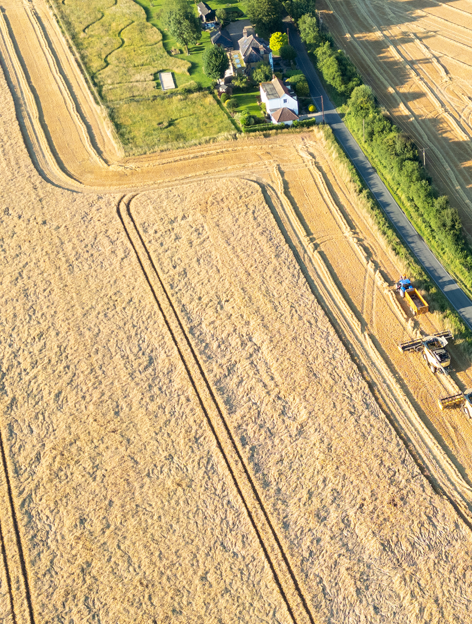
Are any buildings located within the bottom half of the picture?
No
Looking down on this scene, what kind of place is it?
farmland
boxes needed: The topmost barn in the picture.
[195,0,217,22]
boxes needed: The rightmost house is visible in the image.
[259,71,302,128]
